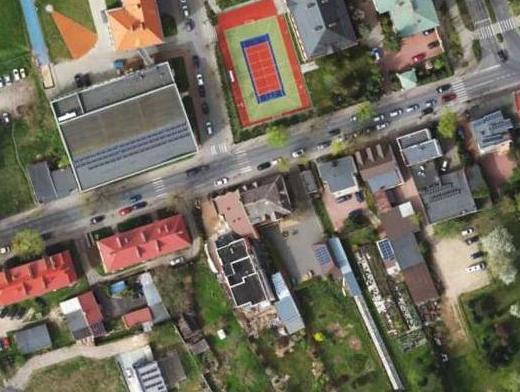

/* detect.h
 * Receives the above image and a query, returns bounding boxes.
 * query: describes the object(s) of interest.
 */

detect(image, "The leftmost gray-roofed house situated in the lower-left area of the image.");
[15,324,51,353]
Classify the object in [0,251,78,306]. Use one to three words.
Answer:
house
